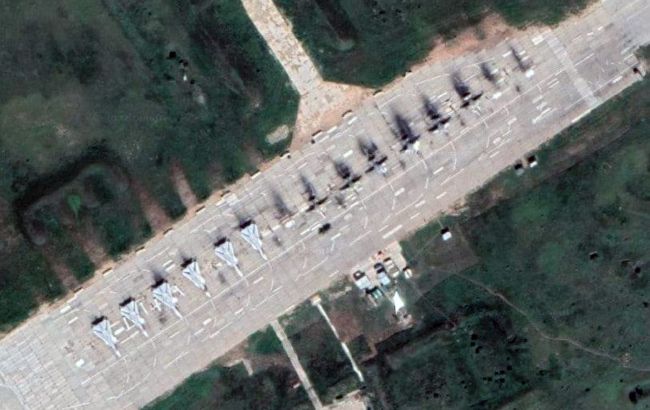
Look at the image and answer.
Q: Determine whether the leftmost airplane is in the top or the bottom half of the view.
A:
bottom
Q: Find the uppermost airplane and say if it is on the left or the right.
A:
right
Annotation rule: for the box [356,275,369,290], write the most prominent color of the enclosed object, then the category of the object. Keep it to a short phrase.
white vehicle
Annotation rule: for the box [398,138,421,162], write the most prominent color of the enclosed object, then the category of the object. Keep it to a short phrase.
white airplane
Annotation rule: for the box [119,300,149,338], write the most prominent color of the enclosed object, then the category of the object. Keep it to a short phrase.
white airplane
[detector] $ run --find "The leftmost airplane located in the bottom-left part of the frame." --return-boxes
[92,319,120,357]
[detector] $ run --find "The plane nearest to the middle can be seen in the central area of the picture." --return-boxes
[305,197,329,223]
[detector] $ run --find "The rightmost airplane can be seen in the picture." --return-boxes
[460,95,484,120]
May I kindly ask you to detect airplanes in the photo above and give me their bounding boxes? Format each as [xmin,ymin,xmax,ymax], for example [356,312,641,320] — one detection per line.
[460,95,484,120]
[215,239,243,277]
[305,197,329,223]
[428,117,453,142]
[92,319,120,357]
[180,260,211,297]
[240,222,268,261]
[364,159,388,183]
[119,300,149,338]
[398,138,421,162]
[153,282,183,319]
[340,176,364,200]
